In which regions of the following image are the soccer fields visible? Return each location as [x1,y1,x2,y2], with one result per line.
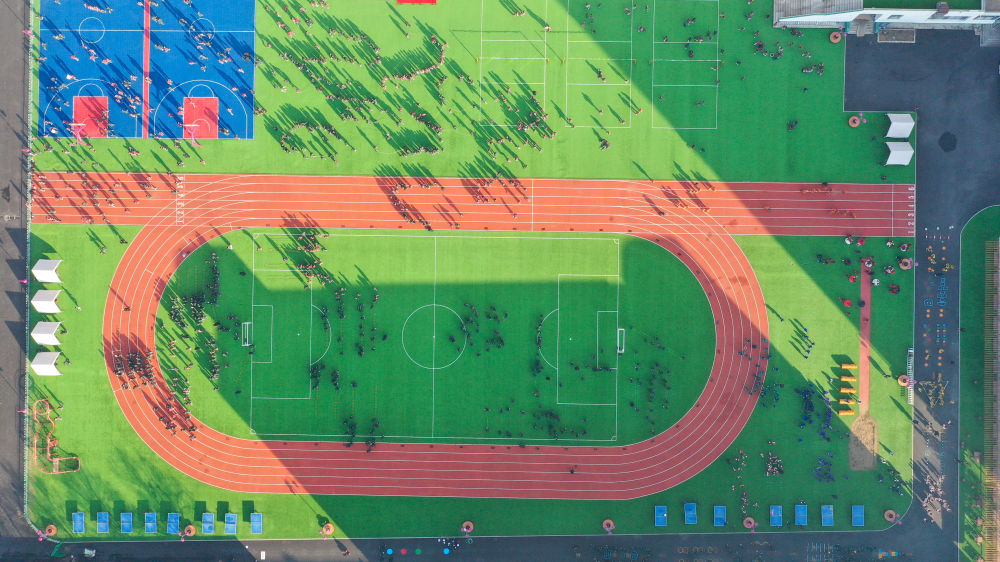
[250,234,619,441]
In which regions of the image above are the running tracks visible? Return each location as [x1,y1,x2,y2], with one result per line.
[33,175,916,497]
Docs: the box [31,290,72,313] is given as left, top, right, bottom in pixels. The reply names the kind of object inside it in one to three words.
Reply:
tent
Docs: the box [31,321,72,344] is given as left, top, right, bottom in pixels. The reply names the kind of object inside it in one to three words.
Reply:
tent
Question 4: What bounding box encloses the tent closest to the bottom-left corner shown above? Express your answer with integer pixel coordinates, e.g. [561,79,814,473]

[31,351,72,375]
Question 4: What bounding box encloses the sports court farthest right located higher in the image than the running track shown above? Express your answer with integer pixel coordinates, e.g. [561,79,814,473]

[652,0,720,128]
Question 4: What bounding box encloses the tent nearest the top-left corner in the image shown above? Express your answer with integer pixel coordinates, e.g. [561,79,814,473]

[31,259,72,282]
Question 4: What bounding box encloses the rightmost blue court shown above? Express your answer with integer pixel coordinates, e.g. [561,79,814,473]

[148,0,255,139]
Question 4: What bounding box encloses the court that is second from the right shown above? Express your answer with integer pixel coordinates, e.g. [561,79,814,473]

[565,0,633,127]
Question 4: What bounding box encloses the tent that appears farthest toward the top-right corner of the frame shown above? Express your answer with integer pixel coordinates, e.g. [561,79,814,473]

[878,114,917,140]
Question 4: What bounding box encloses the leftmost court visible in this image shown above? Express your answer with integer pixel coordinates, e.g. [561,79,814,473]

[38,0,144,139]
